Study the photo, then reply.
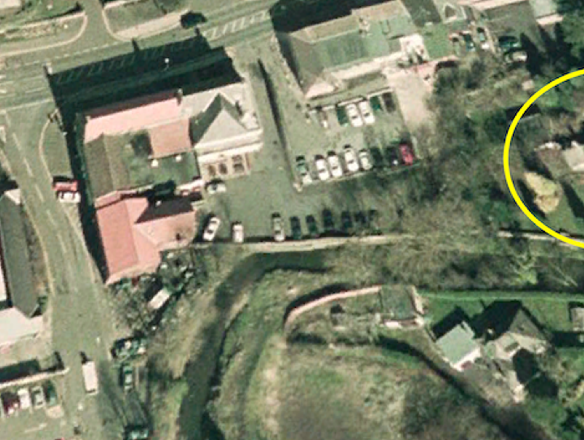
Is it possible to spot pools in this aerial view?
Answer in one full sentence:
No, there appears to be no pool in this shot.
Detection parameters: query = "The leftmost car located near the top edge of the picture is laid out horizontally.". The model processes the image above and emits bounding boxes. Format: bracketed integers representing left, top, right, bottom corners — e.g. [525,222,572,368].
[180,13,205,26]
